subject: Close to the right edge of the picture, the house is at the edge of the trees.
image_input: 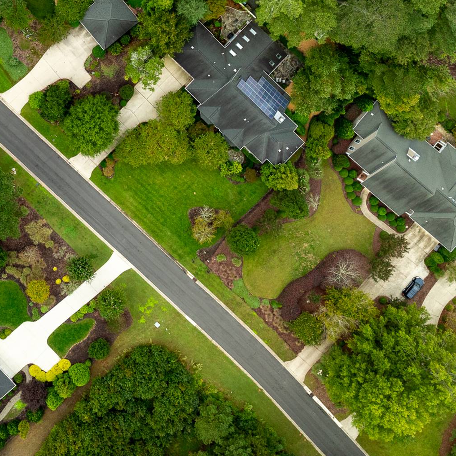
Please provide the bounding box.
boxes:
[347,98,456,252]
